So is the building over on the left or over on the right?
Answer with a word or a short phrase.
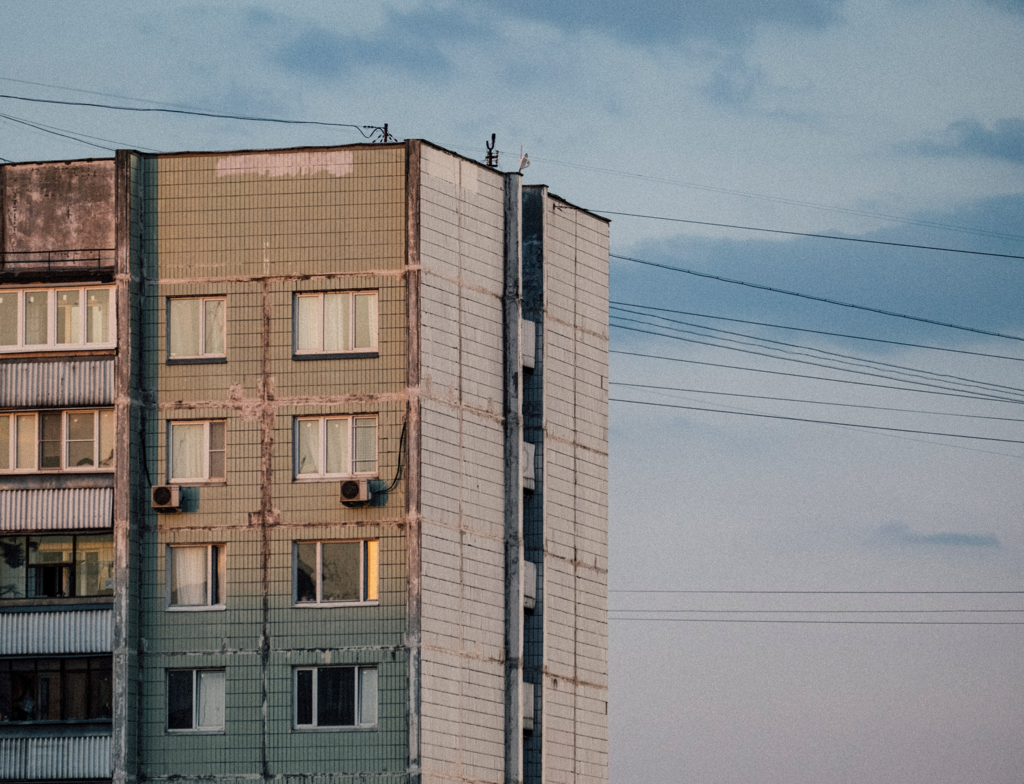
left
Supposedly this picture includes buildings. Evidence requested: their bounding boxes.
[0,139,611,784]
